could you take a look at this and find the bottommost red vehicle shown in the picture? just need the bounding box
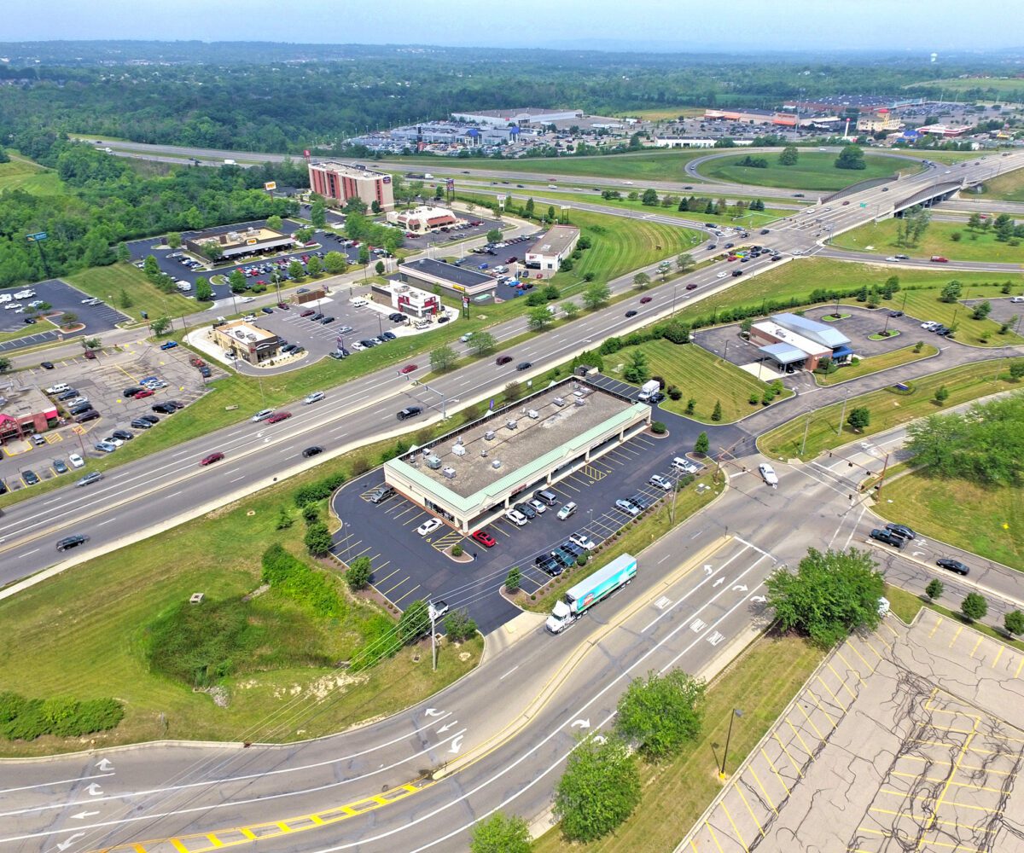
[472,529,496,545]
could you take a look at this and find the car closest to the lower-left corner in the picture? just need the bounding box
[54,531,87,549]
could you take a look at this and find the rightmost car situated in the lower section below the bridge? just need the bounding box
[937,555,972,574]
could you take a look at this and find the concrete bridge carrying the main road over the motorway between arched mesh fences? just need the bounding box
[805,161,1024,233]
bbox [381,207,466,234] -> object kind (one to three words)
house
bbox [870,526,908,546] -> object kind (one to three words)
vehicle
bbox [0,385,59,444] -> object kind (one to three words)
building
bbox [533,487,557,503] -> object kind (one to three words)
car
